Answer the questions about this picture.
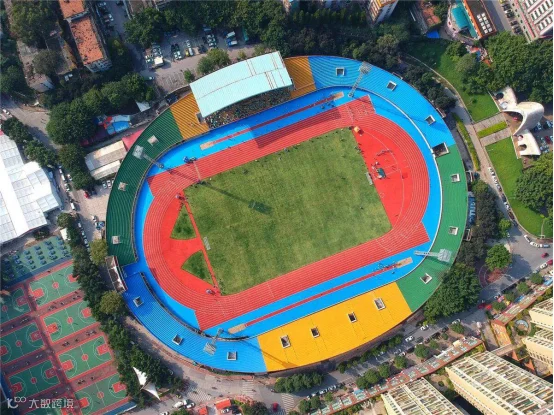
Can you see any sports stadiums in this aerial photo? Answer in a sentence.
Yes, looking at the shot, I can spot a sports stadium.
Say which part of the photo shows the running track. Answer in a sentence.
The running track sits in the center section of the image.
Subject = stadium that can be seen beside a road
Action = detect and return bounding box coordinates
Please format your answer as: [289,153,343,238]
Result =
[105,51,470,374]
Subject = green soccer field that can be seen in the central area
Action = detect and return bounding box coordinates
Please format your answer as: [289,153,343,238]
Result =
[170,127,391,295]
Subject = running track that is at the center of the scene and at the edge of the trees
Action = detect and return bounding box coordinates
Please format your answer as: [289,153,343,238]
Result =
[143,94,431,330]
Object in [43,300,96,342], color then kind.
green basketball court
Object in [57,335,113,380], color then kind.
green basketball court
